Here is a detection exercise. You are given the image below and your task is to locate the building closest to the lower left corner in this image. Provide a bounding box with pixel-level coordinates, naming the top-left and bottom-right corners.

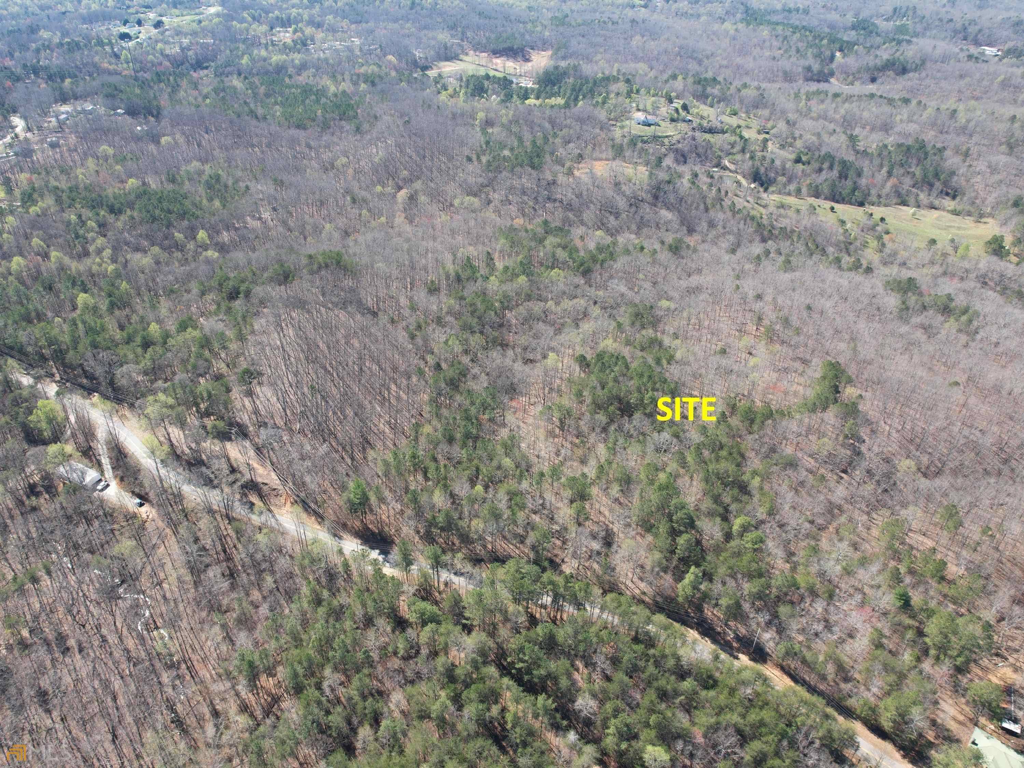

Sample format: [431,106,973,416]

[55,460,102,490]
